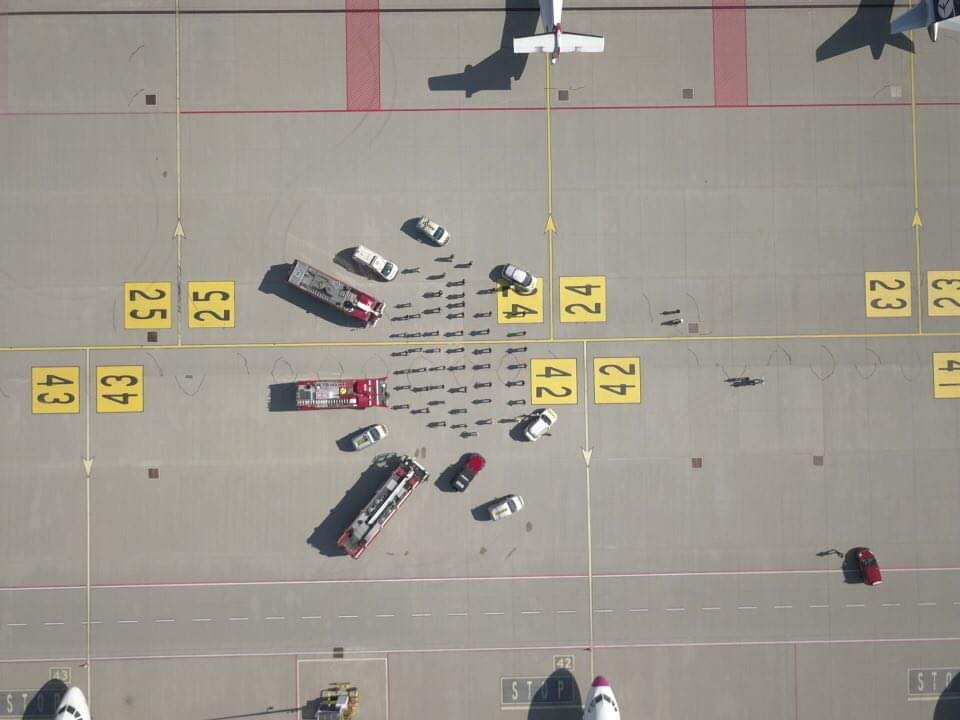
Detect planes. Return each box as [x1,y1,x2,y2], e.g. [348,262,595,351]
[54,687,95,720]
[889,0,960,41]
[584,676,621,720]
[514,0,604,63]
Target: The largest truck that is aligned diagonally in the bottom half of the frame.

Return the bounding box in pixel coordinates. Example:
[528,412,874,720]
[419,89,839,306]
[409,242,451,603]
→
[337,455,428,562]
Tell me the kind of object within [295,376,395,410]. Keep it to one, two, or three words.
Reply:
truck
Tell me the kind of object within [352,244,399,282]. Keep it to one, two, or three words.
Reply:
van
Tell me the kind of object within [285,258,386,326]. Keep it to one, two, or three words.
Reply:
truck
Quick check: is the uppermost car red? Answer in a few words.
No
